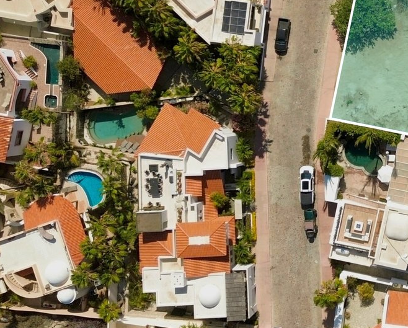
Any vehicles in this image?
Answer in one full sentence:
Yes, you can see a vehicle in this photo.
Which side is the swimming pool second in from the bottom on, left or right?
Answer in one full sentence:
You can find the swimming pool second in from the bottom on the right side of the picture.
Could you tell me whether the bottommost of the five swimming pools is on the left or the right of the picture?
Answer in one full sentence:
The bottommost of the five swimming pools sits on the left side.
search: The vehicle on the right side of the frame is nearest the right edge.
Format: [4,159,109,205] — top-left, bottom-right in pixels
[298,165,315,208]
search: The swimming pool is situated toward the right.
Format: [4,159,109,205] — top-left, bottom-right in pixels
[341,136,386,178]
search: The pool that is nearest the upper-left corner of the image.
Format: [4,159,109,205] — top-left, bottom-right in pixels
[28,42,60,87]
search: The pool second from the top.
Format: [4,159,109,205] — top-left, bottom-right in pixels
[44,94,59,109]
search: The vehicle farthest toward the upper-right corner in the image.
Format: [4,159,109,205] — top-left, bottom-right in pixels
[272,16,291,57]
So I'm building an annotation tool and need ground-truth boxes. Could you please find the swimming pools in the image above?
[66,169,107,209]
[85,106,148,145]
[28,42,60,87]
[341,136,386,178]
[44,94,59,109]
